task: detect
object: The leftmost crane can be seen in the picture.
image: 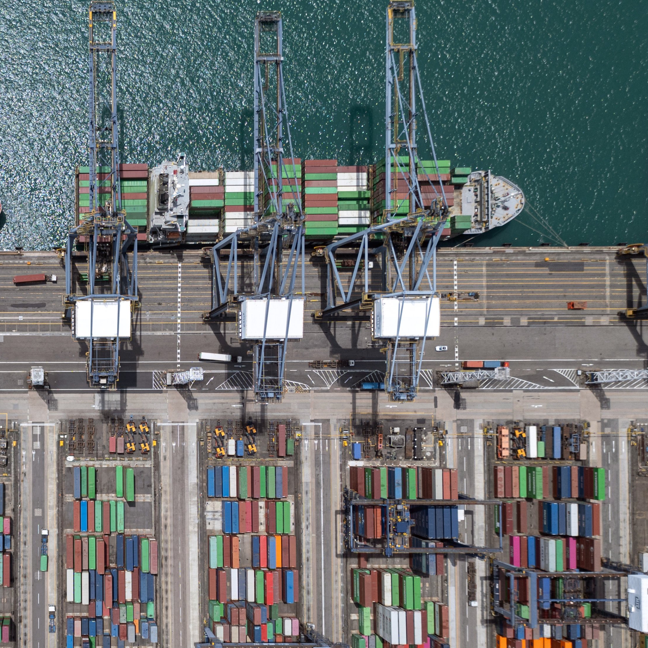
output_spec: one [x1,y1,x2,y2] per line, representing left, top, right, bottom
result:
[50,2,143,386]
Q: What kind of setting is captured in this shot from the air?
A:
port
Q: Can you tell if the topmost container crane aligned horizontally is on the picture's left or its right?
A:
right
